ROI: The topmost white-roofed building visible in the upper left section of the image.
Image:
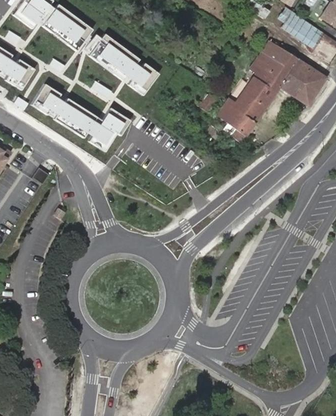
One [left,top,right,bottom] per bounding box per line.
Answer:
[12,0,94,56]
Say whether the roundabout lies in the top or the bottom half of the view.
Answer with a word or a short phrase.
bottom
